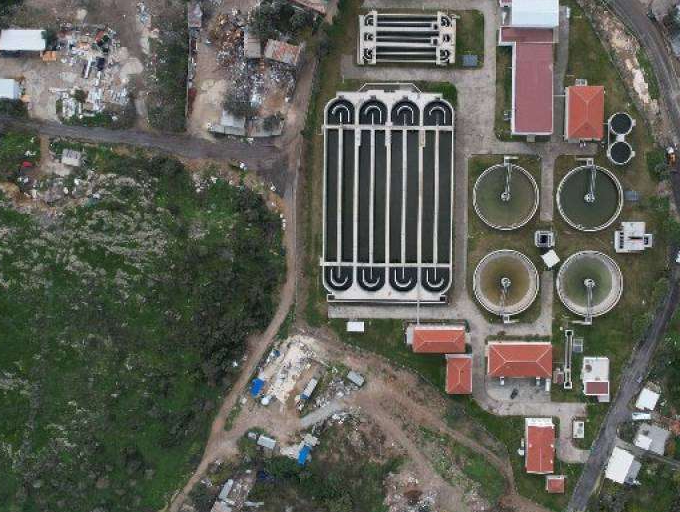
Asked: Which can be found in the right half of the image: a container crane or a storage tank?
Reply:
storage tank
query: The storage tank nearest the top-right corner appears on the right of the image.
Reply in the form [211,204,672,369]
[606,112,635,141]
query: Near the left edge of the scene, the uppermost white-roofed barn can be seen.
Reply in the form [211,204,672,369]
[0,29,50,52]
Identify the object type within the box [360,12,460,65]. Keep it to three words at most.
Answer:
storage tank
